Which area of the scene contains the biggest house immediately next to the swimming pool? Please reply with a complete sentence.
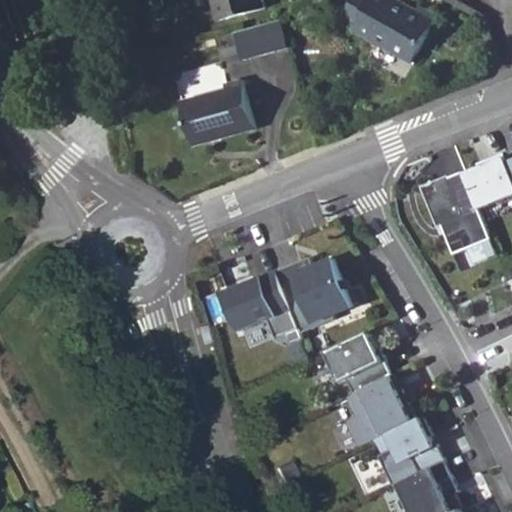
The biggest house immediately next to the swimming pool is located in the center region of the scene.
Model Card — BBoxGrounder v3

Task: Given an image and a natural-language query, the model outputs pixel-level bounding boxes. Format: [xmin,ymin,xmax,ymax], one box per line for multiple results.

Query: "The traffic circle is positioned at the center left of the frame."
[80,196,184,305]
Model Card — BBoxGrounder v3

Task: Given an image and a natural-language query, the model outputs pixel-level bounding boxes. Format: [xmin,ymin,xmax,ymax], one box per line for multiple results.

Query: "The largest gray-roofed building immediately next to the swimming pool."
[218,277,278,332]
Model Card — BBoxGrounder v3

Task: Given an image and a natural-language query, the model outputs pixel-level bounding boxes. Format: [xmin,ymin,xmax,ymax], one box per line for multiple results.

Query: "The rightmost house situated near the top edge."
[348,0,435,62]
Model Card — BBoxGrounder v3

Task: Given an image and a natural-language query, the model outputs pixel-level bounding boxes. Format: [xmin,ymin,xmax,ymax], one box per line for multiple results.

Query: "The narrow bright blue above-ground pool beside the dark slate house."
[206,294,225,324]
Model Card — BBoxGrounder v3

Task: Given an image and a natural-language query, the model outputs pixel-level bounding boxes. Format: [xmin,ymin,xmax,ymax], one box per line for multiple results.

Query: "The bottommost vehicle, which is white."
[473,472,492,500]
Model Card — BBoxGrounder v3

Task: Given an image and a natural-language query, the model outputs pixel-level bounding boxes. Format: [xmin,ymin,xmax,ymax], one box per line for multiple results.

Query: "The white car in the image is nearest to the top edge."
[251,224,264,246]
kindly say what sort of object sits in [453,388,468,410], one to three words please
car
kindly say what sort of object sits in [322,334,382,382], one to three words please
house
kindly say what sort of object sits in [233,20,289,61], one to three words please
building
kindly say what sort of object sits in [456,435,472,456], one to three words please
car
